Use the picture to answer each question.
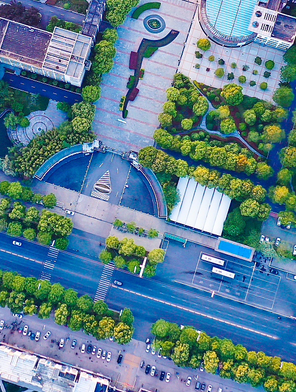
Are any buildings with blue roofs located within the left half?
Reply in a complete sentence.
Yes, a building with a blue roof appears within the left half.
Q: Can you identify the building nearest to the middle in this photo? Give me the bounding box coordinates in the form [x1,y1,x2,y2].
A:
[139,165,167,217]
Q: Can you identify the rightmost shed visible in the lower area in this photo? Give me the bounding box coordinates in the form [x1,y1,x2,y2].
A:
[215,235,256,261]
